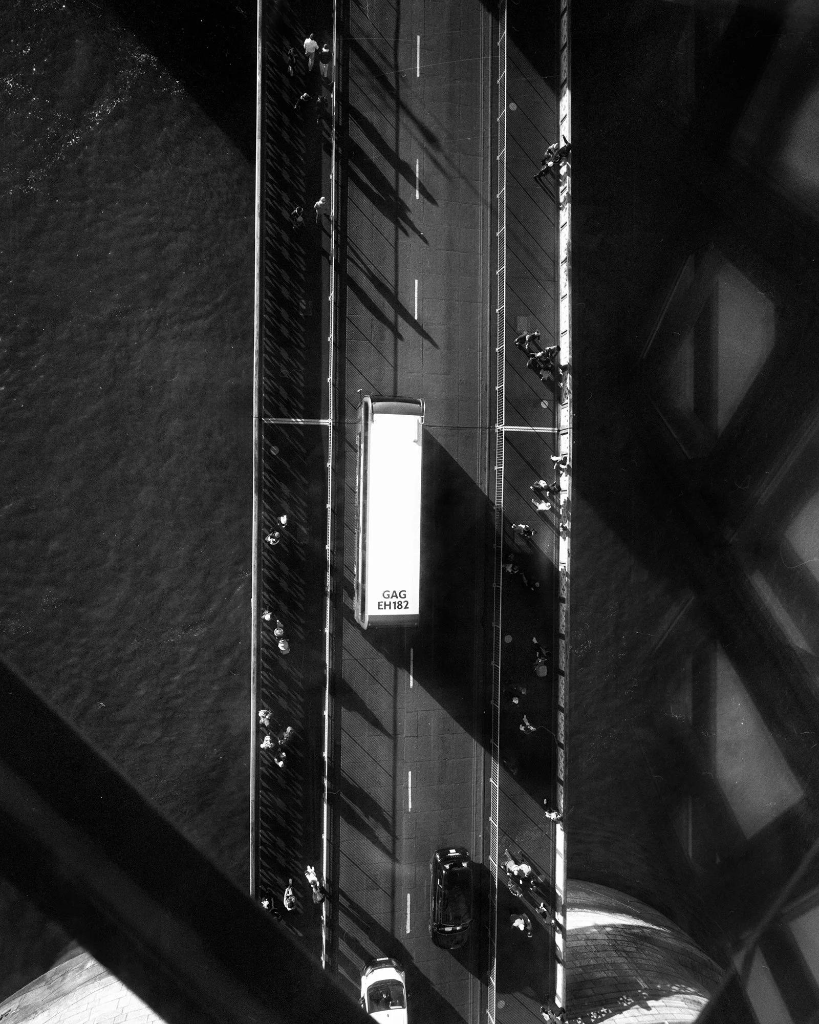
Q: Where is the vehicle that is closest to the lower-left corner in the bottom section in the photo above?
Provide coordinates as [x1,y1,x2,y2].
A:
[359,955,411,1024]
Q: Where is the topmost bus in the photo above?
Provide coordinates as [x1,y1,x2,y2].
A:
[353,392,429,631]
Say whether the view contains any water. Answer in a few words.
Yes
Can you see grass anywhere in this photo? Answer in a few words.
No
